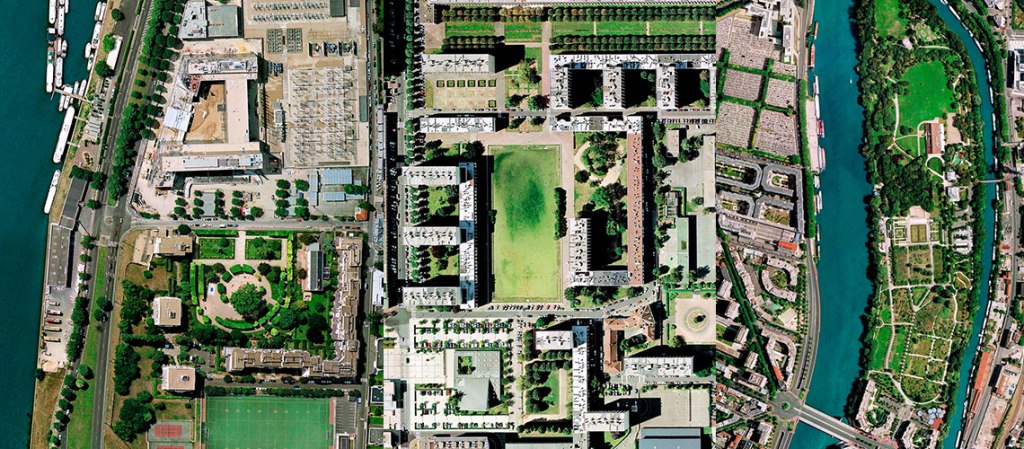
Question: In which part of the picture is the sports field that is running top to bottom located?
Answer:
center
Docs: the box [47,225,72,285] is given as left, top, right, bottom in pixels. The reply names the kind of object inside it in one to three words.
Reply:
building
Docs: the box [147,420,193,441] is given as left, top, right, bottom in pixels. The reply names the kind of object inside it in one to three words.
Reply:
tennis court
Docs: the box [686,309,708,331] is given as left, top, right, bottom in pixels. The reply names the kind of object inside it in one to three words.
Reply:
fountain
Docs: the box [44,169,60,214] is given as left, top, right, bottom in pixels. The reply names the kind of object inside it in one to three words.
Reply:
ship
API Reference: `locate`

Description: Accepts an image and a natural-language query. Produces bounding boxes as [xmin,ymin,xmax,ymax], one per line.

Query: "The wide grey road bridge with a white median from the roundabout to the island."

[797,405,897,449]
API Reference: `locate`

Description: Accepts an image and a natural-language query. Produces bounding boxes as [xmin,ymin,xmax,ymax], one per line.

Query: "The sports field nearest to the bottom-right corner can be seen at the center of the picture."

[491,145,561,305]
